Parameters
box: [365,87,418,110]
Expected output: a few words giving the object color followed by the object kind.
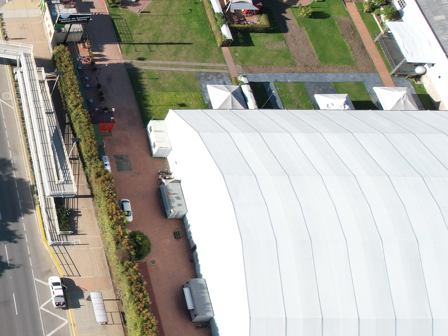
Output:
white tent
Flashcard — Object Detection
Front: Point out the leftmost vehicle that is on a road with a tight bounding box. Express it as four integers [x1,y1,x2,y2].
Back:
[48,275,69,311]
